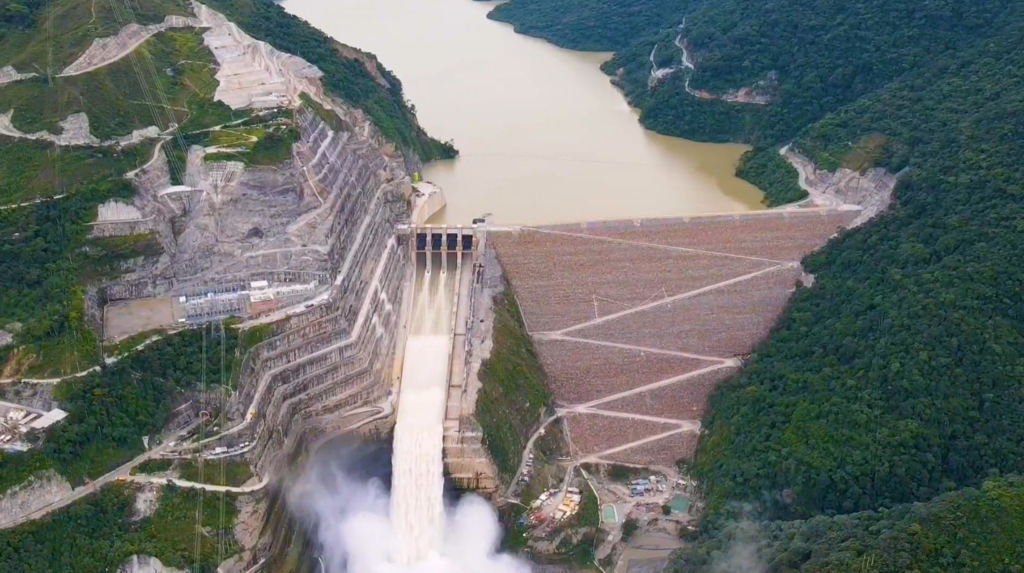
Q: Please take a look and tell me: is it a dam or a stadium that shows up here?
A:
dam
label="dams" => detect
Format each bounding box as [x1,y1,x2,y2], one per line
[479,204,862,475]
